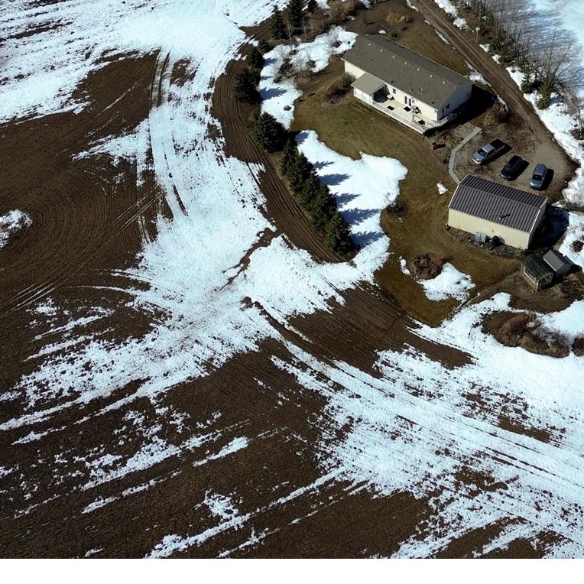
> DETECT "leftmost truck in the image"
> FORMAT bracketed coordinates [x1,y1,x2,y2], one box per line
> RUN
[469,136,510,166]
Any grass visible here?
Yes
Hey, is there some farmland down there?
Yes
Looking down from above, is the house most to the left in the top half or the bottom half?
top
